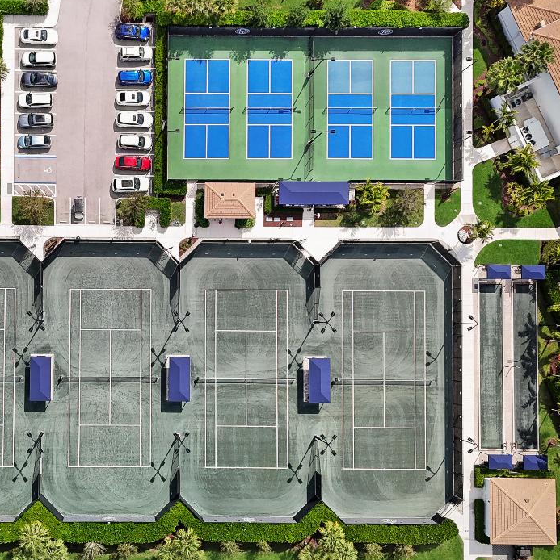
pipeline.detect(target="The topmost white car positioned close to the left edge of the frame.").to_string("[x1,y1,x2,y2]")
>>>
[20,25,57,43]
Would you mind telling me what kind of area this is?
sports ground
